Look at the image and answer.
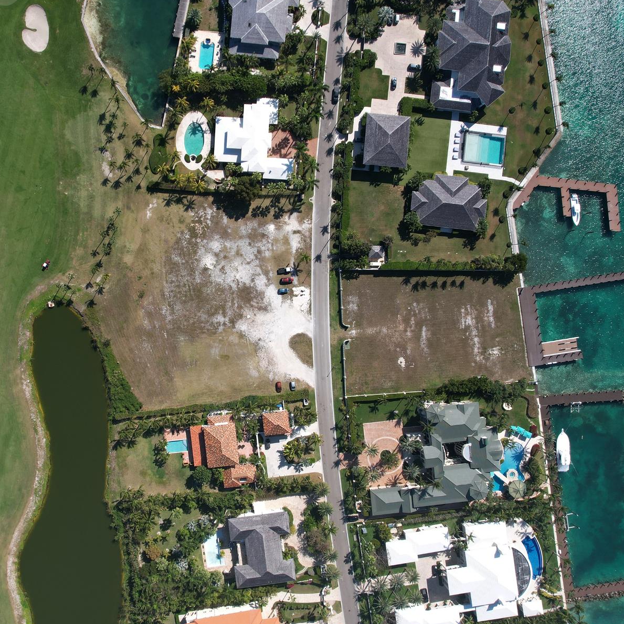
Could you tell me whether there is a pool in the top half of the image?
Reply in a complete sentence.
Yes, in the top half of the image there is a pool.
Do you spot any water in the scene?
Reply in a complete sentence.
Yes, some water is visible.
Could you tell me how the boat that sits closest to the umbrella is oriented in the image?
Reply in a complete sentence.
The boat that sits closest to the umbrella has been laid out up and down relative to the frame.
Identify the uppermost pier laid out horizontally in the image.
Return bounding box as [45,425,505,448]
[513,169,623,232]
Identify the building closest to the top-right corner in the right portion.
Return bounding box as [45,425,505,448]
[430,0,511,113]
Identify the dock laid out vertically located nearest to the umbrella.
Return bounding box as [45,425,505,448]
[540,406,576,601]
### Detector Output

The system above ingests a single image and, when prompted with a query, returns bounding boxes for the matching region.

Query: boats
[555,420,578,477]
[570,193,581,224]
